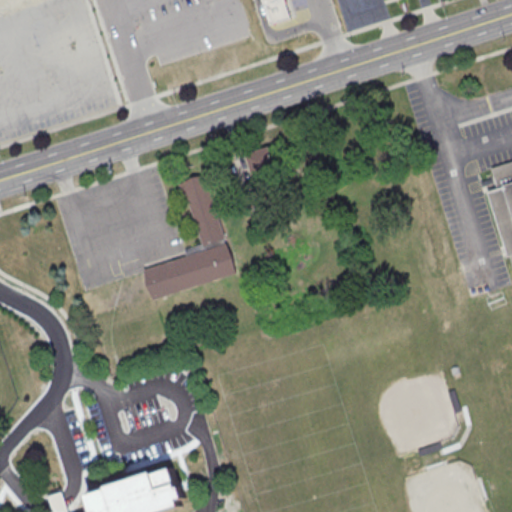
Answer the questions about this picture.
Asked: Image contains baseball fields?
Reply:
Yes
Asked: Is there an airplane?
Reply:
No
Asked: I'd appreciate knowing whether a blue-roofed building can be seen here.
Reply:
No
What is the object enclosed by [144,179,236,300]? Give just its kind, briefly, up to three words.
building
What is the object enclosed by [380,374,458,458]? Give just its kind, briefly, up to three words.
baseball field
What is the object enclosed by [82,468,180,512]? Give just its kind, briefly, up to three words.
building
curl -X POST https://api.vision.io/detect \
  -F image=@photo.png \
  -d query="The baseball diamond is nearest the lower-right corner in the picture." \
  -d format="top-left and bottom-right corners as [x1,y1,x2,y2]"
[405,460,490,512]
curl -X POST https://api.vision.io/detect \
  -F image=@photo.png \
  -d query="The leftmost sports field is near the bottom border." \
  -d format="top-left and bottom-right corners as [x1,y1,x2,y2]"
[218,344,376,512]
